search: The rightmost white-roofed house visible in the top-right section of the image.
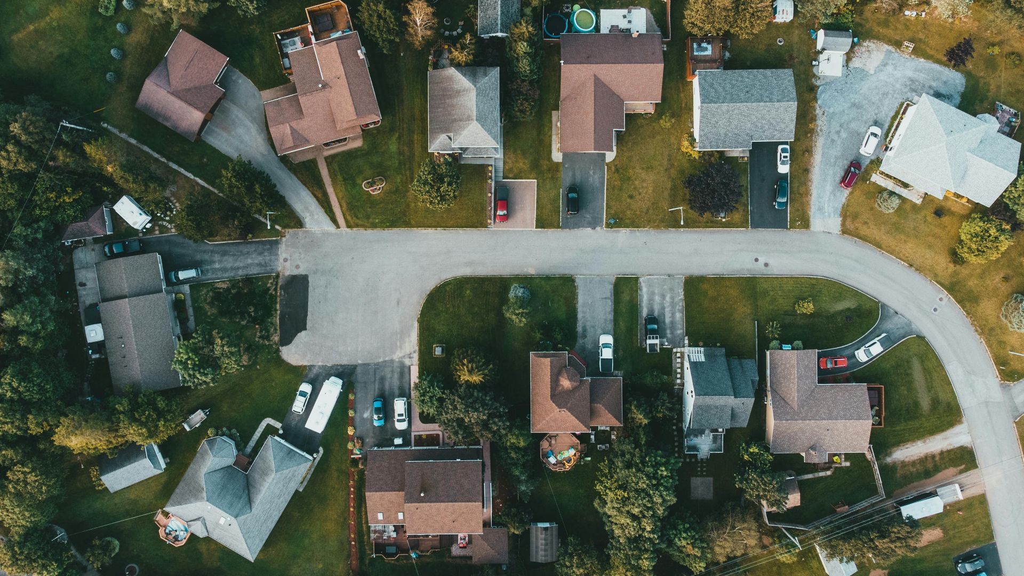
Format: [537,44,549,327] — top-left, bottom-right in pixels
[875,93,1022,208]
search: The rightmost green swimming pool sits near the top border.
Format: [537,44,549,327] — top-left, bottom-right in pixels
[572,6,598,32]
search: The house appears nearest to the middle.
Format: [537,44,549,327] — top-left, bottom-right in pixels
[530,349,623,433]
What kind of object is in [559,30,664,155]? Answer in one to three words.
house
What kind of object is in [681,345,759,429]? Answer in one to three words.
house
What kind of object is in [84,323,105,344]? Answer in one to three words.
gazebo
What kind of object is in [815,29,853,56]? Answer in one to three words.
shed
